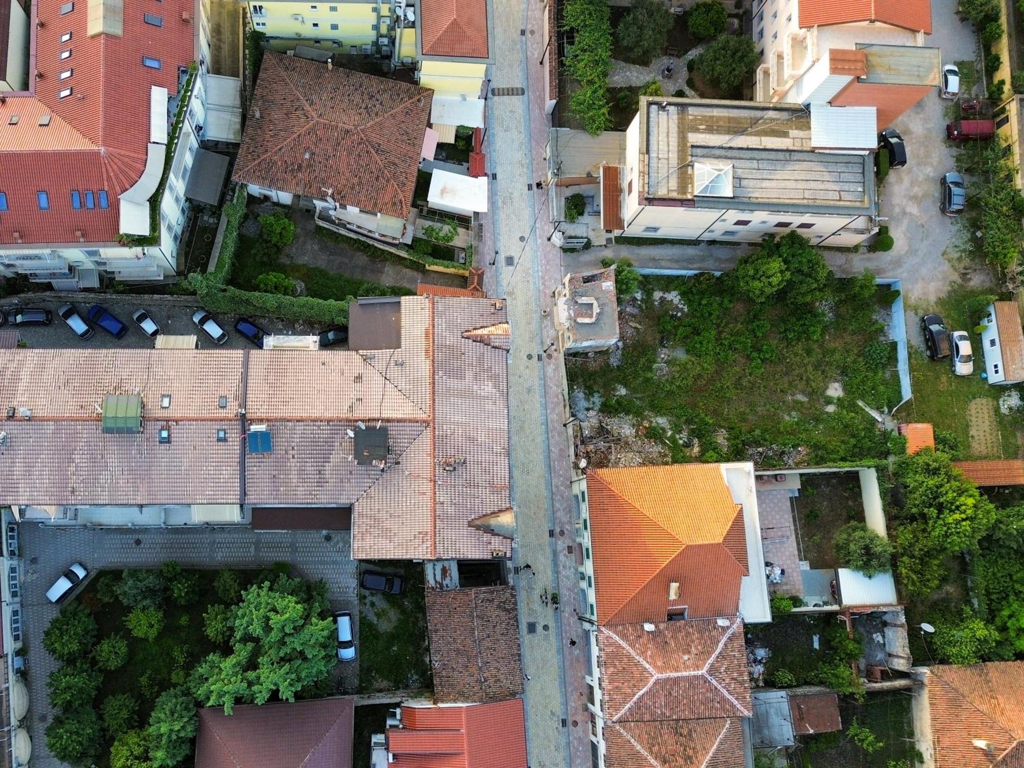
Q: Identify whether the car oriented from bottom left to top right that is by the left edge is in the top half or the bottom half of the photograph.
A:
bottom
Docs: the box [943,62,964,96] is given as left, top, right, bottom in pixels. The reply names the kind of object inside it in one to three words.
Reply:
car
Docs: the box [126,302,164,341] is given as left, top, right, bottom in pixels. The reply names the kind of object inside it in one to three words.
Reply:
car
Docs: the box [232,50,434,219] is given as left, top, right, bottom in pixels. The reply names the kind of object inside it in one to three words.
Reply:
house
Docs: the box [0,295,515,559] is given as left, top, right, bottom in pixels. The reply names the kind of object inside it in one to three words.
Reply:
building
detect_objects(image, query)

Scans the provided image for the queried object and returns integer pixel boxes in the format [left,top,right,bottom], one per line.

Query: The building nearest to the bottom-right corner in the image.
[915,661,1024,768]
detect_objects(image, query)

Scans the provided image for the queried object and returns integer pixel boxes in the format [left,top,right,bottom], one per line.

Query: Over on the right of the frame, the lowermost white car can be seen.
[954,332,978,373]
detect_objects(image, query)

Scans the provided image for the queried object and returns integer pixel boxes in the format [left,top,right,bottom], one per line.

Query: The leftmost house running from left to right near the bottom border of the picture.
[195,697,355,768]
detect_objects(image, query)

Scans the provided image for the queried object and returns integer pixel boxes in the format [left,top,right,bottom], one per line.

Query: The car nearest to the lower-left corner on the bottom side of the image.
[41,561,89,606]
